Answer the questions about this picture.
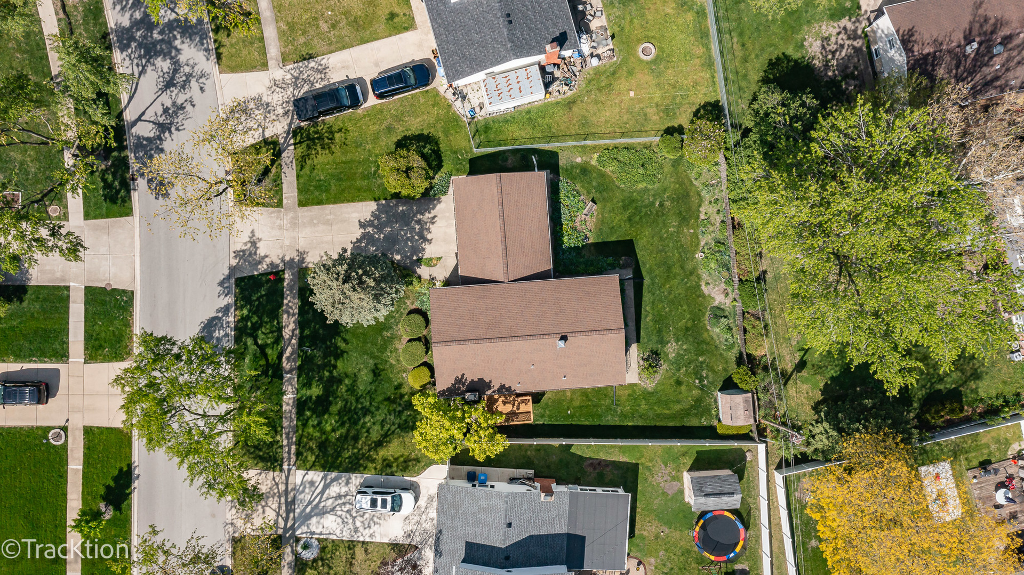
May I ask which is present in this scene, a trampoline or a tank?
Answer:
trampoline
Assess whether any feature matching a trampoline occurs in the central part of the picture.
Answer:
No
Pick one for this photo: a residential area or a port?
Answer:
residential area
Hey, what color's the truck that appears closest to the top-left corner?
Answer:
black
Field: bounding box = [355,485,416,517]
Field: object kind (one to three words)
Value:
car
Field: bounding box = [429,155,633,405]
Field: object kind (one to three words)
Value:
house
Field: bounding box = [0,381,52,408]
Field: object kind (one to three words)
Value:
car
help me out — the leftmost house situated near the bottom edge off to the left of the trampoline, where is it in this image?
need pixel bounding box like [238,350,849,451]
[432,471,631,575]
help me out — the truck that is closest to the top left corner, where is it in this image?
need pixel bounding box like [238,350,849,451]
[294,83,368,123]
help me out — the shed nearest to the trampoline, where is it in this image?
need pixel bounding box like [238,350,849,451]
[682,470,742,512]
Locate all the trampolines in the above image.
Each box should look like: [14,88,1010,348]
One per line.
[686,509,750,567]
